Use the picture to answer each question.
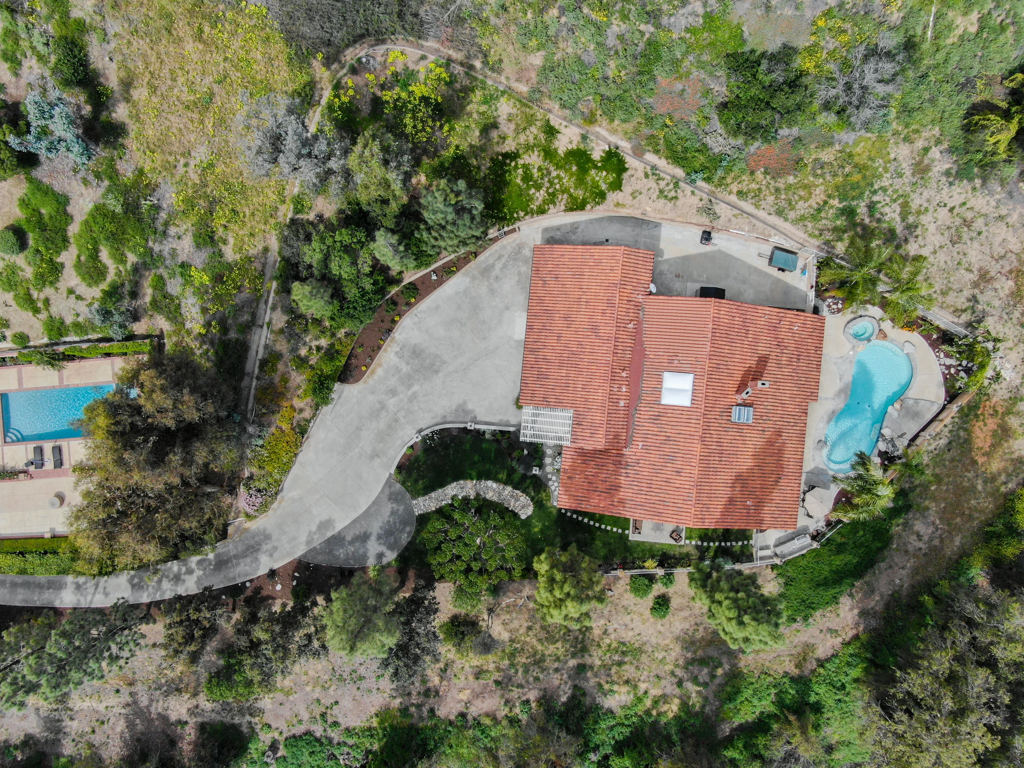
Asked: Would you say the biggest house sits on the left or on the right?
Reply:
right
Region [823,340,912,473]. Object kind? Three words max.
swimming pool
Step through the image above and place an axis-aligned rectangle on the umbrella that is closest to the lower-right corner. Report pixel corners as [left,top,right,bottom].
[805,487,833,515]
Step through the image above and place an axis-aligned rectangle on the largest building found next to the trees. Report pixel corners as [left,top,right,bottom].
[517,243,827,532]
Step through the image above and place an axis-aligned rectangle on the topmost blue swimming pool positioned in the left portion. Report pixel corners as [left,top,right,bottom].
[0,382,157,444]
